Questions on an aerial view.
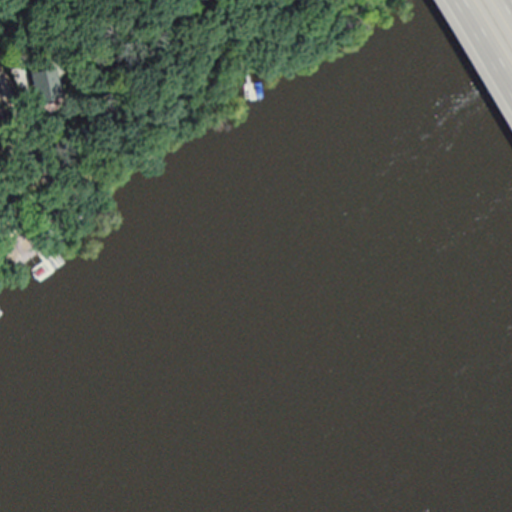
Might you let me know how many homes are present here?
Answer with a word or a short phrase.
one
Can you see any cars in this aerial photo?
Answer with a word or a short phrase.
No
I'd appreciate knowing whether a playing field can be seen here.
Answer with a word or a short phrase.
No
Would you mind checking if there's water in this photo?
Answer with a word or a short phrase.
Yes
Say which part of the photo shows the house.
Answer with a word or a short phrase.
top left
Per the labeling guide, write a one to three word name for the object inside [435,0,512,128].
bridge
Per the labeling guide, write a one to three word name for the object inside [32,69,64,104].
house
